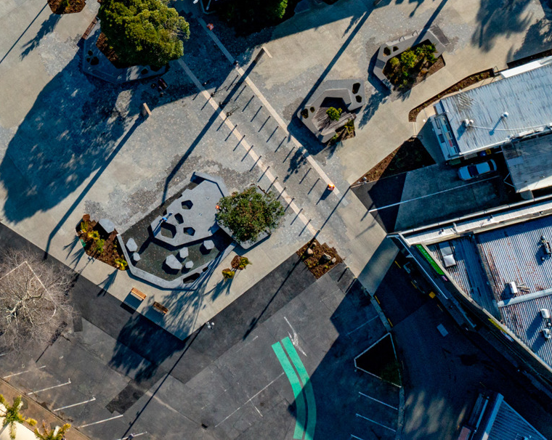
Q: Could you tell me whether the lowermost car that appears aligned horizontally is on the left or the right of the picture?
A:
right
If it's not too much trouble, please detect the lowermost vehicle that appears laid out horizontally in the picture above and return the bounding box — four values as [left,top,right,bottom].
[455,158,500,181]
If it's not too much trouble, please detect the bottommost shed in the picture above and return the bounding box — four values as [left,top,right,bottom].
[458,390,552,440]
